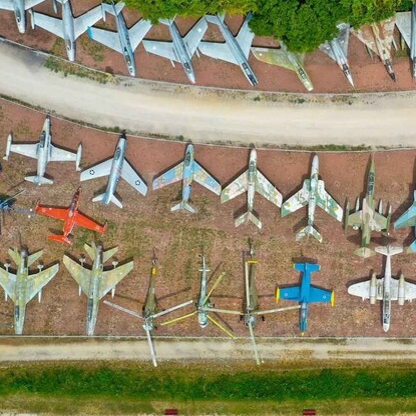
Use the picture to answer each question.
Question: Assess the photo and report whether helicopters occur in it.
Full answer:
Yes, looking at the shot, I can spot a helicopter.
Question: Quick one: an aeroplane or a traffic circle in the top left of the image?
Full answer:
It is an aeroplane that can be seen in the top left of the image.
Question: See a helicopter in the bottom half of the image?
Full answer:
Yes, looking in the bottom half of the image, one can make out a helicopter.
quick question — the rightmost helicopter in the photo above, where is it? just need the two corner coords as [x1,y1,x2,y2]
[205,246,300,363]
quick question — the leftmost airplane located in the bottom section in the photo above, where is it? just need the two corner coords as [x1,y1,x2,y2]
[0,248,60,336]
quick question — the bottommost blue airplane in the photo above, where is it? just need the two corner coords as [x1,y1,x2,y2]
[276,261,335,335]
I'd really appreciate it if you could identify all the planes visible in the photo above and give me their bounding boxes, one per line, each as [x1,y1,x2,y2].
[276,261,335,335]
[0,248,60,336]
[343,157,390,259]
[252,22,312,92]
[152,142,220,213]
[350,5,395,81]
[5,117,81,186]
[350,247,416,332]
[220,145,281,228]
[30,0,105,62]
[280,155,341,242]
[78,132,145,208]
[394,0,416,81]
[313,7,353,84]
[144,13,209,84]
[0,0,42,33]
[64,243,133,336]
[197,7,261,86]
[88,0,153,78]
[35,187,108,239]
